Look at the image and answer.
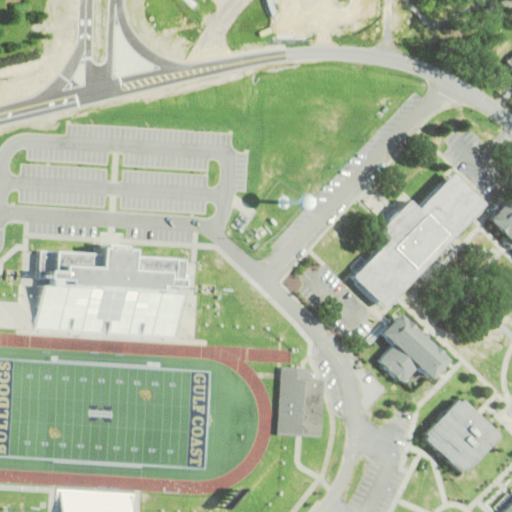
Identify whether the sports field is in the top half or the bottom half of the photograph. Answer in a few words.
bottom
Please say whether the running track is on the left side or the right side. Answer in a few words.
left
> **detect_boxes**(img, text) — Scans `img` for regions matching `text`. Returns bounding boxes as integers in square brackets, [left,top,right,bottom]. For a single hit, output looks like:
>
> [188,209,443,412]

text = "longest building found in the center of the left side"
[35,245,192,292]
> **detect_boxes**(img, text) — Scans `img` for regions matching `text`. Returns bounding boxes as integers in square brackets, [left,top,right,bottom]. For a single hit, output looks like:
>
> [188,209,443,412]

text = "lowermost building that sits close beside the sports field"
[275,368,324,438]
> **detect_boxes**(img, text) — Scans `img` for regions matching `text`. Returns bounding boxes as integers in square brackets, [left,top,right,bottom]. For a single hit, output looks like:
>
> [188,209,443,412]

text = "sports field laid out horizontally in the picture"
[0,347,256,480]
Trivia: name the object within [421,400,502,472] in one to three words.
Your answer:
building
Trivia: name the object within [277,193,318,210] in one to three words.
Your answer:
water tower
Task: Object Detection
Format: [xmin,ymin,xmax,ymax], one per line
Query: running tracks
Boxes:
[0,332,292,494]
